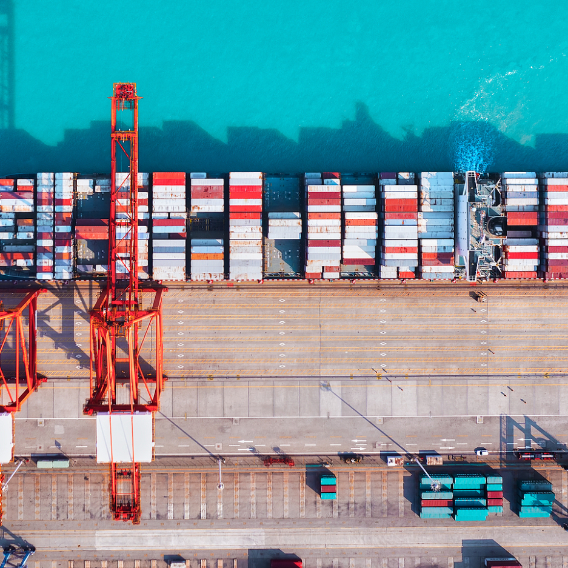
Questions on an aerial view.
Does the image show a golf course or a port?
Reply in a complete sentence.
This looks like a port.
